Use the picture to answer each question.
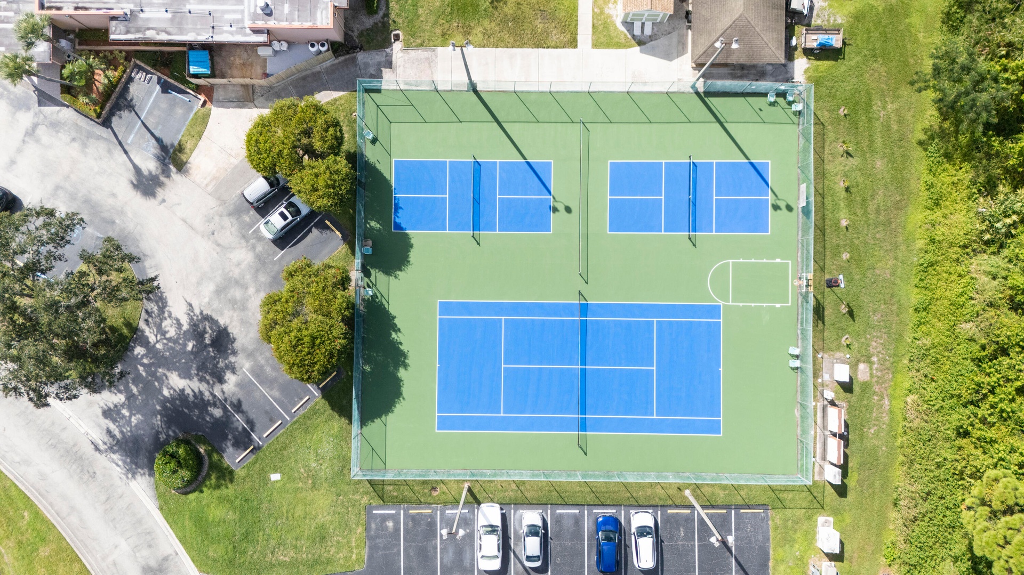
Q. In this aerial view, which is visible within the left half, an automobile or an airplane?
automobile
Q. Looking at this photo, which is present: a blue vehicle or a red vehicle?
blue vehicle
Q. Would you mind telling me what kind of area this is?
sports ground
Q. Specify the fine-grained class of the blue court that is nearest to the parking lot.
tennis court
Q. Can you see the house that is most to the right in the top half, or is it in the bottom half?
top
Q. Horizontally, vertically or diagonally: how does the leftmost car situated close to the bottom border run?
vertically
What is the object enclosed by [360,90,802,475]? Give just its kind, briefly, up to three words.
sports court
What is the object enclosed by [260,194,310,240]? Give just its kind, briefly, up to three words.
car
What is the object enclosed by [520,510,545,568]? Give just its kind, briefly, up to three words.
car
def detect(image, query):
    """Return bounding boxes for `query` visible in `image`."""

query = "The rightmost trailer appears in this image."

[799,26,856,56]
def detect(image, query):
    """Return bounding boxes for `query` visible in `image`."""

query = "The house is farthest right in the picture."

[689,0,786,69]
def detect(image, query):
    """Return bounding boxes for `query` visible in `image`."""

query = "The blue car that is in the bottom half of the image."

[595,514,621,571]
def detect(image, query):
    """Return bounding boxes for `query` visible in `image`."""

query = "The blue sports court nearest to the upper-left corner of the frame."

[392,158,553,233]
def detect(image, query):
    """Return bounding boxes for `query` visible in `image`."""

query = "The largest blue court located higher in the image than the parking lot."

[435,300,722,436]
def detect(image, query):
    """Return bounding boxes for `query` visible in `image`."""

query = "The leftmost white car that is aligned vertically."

[476,505,503,572]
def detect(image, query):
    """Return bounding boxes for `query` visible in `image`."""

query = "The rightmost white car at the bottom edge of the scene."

[630,510,657,570]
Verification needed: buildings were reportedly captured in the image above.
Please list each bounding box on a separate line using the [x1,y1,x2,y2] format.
[621,0,672,22]
[35,0,350,50]
[689,0,786,69]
